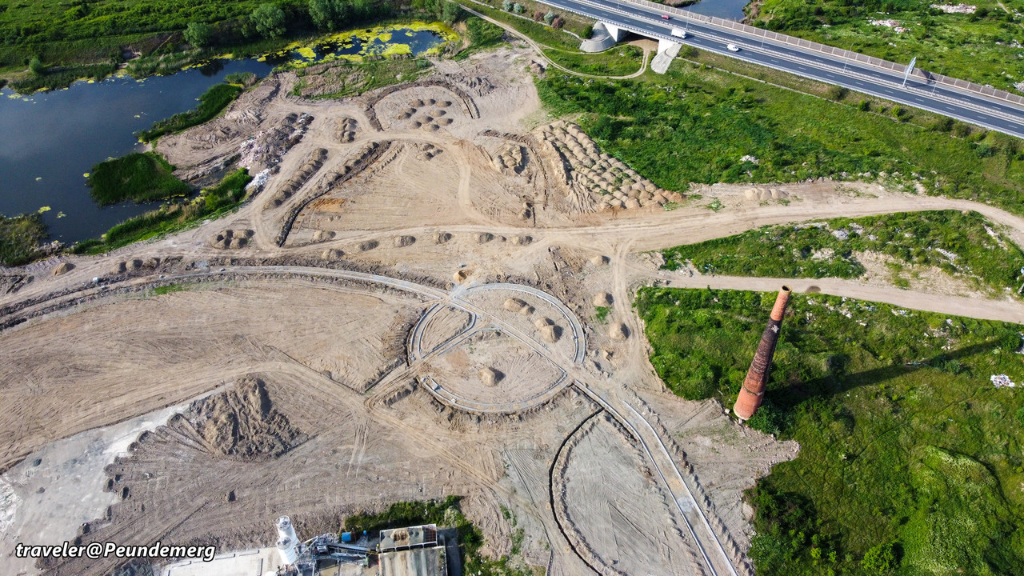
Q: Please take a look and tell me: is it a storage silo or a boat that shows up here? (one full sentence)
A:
Looking from above, you can make out a storage silo.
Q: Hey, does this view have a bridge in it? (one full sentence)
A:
Yes, you can see a bridge in this photo.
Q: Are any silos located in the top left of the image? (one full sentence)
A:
No, no silo is visible in the top left of the image.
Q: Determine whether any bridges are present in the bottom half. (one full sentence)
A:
No, I see no bridge in the bottom half.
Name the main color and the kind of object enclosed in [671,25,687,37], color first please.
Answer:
white vehicle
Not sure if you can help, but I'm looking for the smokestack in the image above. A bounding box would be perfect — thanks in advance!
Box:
[736,289,794,415]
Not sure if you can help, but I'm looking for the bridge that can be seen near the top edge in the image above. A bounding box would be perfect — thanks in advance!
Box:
[603,21,683,55]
